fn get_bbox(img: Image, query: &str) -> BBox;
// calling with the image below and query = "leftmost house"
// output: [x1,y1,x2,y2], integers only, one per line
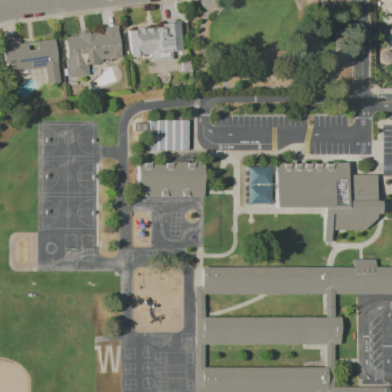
[5,39,60,84]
